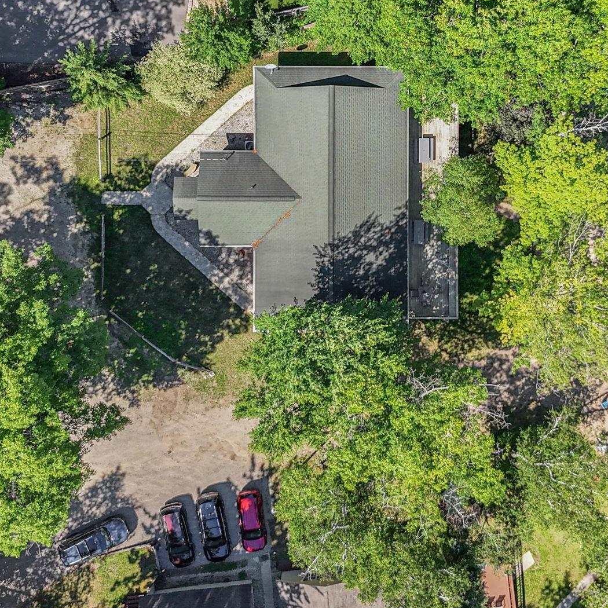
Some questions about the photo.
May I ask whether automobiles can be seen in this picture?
Yes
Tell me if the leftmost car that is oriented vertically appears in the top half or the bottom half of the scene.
bottom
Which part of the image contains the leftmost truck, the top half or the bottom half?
bottom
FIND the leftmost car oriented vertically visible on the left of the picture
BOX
[160,497,198,570]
